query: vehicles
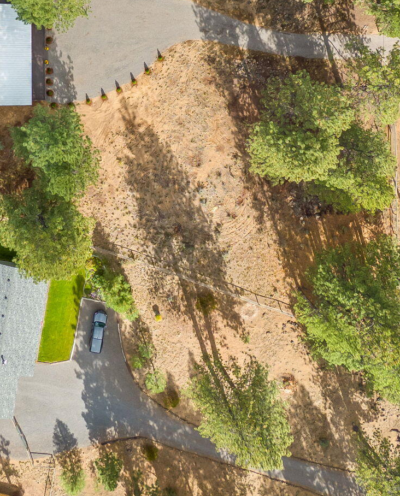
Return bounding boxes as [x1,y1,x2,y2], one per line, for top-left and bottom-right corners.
[90,309,108,353]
